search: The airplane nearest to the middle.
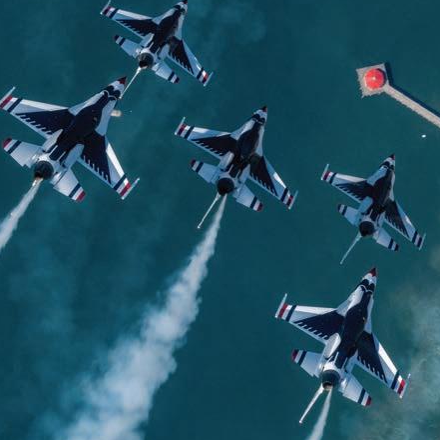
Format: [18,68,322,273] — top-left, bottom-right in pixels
[175,104,297,228]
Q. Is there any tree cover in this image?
No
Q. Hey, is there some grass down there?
No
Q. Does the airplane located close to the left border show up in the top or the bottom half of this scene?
top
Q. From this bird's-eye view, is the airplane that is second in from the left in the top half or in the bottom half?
top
